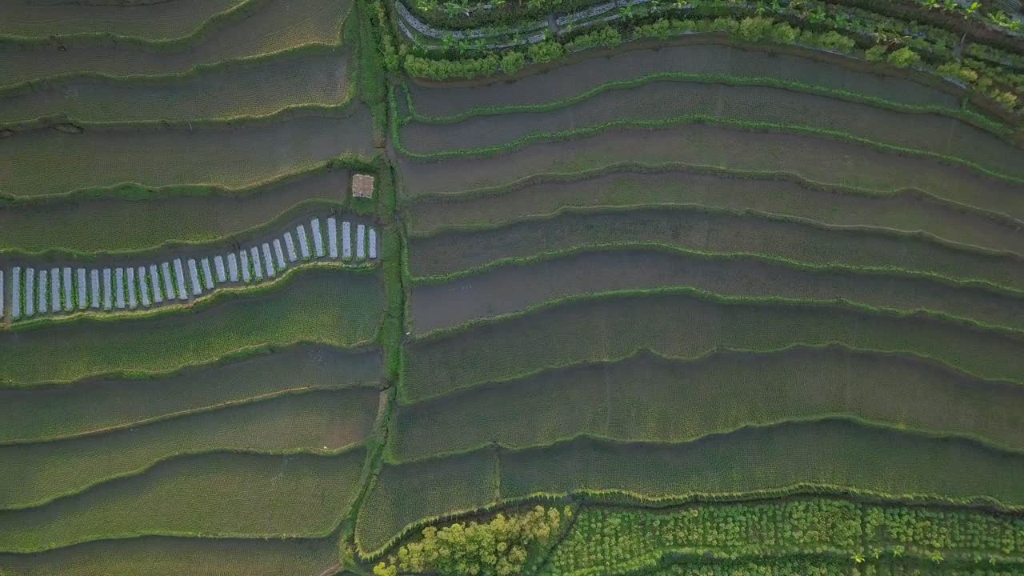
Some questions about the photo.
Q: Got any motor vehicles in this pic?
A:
No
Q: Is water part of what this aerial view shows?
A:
Yes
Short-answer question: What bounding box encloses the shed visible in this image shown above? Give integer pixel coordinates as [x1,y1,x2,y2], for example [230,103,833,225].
[352,174,375,199]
